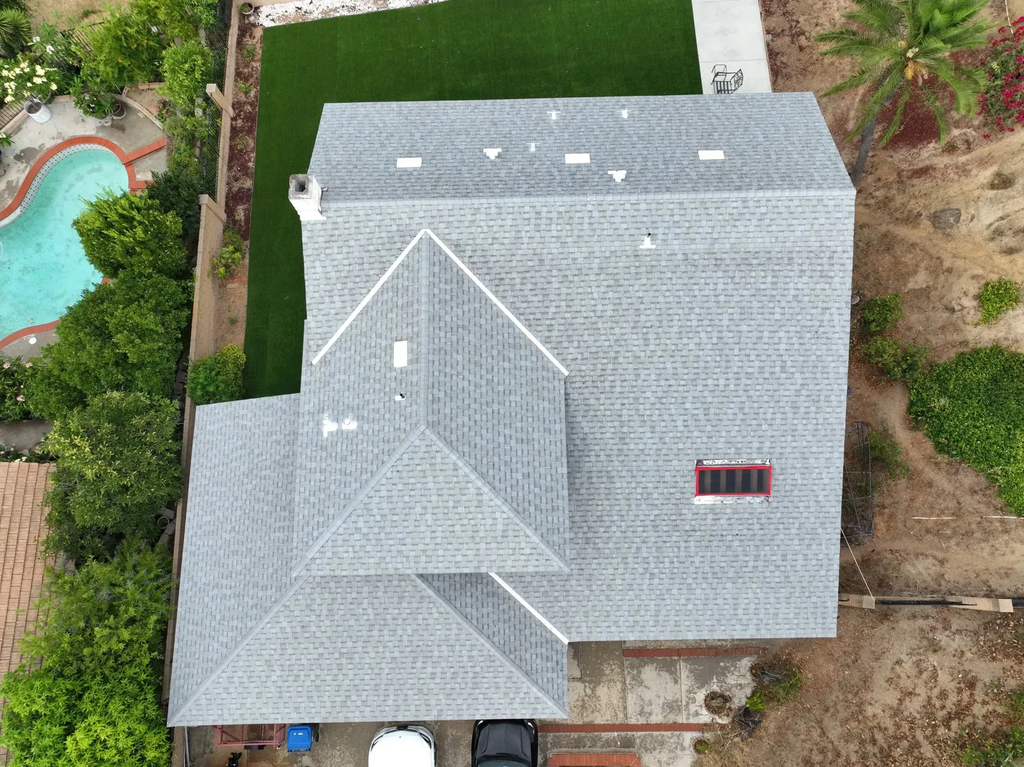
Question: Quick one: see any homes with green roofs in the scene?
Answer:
No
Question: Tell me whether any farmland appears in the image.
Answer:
No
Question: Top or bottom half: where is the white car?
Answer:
bottom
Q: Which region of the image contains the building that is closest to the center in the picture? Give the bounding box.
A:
[167,91,857,729]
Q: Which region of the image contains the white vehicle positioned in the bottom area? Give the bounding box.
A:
[368,723,434,767]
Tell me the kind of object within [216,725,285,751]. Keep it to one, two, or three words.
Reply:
trailer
